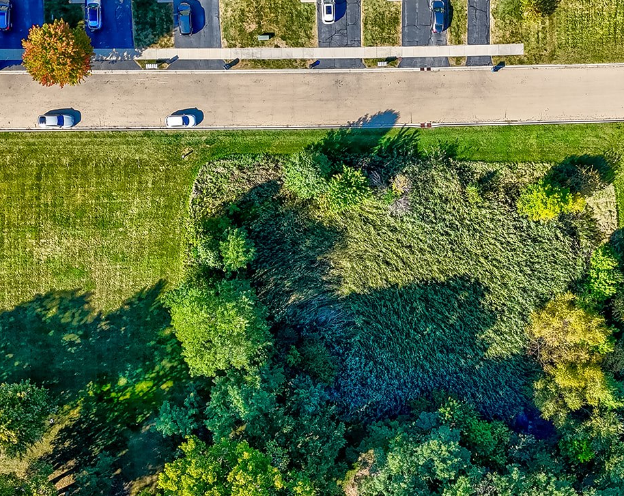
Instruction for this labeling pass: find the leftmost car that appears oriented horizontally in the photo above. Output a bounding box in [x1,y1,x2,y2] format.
[39,112,76,129]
